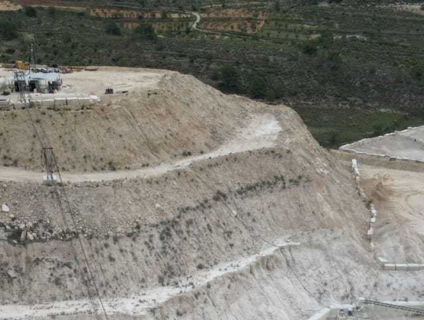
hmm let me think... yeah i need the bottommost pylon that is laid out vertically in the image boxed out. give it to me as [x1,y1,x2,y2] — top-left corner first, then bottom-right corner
[39,133,57,179]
